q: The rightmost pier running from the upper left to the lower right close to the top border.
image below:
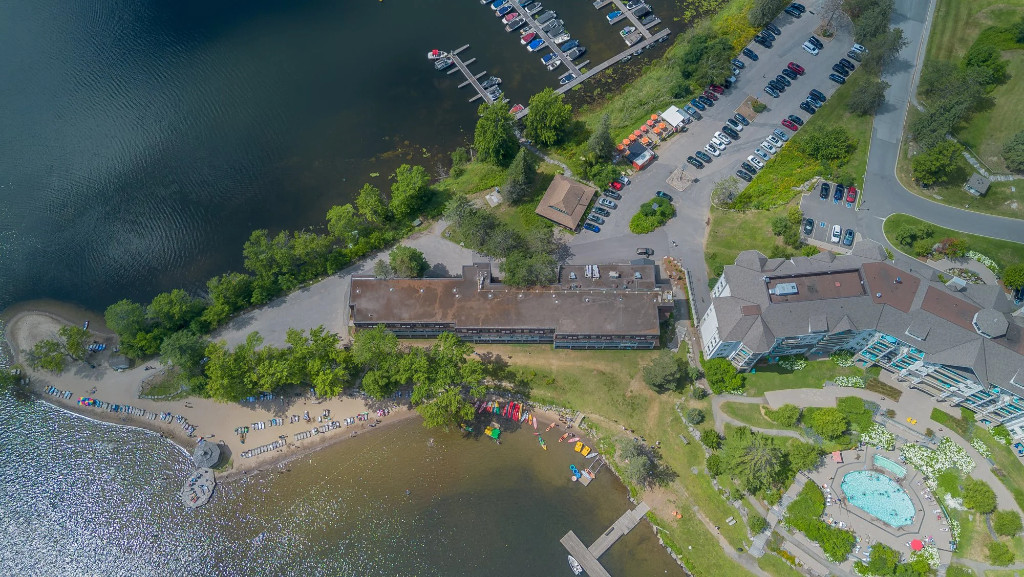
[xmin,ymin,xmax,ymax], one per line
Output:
[613,0,653,40]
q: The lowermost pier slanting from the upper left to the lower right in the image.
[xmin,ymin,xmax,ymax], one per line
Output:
[559,528,620,577]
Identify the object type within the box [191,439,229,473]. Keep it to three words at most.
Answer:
gazebo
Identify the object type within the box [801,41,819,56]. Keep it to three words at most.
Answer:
car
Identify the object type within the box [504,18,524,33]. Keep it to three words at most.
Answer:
boat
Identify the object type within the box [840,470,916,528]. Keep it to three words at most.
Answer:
swimming pool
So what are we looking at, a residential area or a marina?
marina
